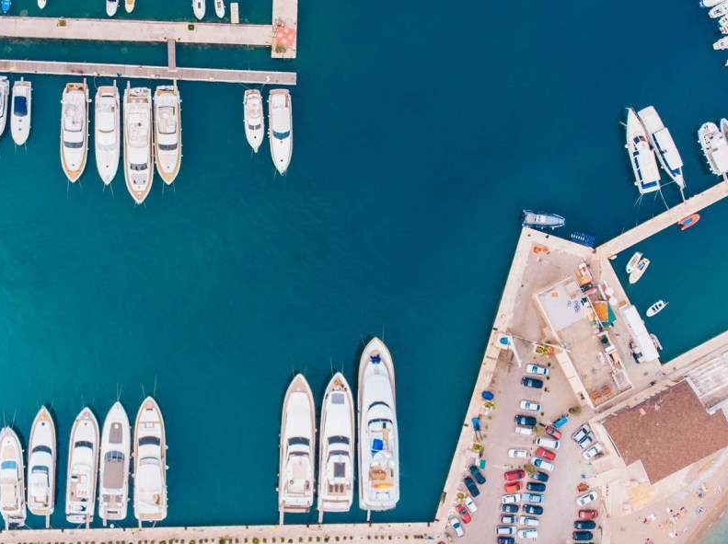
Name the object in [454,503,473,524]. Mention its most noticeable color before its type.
red car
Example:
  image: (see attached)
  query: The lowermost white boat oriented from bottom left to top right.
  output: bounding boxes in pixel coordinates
[646,299,667,316]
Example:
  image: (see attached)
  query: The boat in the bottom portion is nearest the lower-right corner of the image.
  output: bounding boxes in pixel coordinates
[651,334,664,353]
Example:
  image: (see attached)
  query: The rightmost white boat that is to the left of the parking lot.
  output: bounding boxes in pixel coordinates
[355,324,400,524]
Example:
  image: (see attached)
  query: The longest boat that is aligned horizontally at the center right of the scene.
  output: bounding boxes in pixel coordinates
[522,210,565,229]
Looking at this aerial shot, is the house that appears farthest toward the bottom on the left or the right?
right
